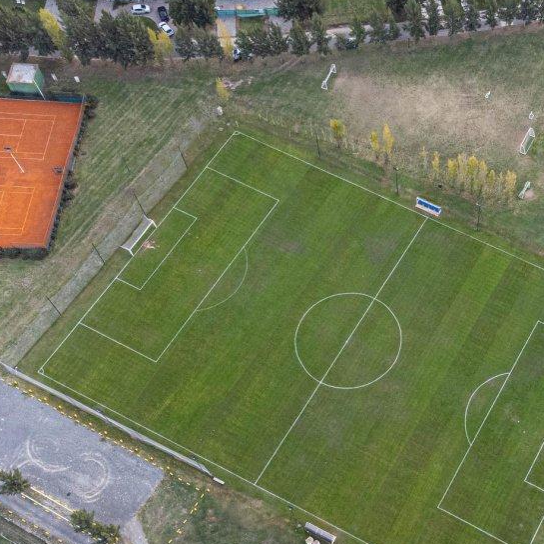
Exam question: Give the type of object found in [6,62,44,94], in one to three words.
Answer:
shed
